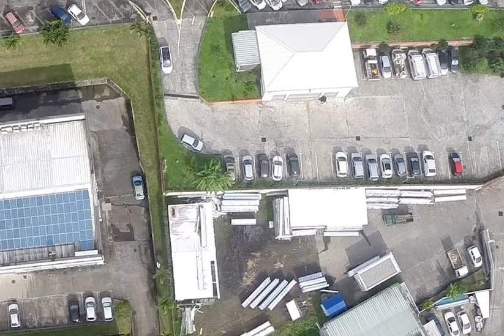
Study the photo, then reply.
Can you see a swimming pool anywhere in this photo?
No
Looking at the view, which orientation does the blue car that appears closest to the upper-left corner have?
diagonally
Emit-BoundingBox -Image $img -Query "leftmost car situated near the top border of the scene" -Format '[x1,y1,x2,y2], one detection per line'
[5,11,23,34]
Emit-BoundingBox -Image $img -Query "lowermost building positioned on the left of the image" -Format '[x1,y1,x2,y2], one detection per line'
[164,202,219,300]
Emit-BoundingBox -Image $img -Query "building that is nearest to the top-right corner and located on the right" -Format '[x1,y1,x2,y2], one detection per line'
[254,21,358,102]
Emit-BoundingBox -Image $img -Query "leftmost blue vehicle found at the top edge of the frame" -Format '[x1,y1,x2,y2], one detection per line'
[49,3,72,25]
